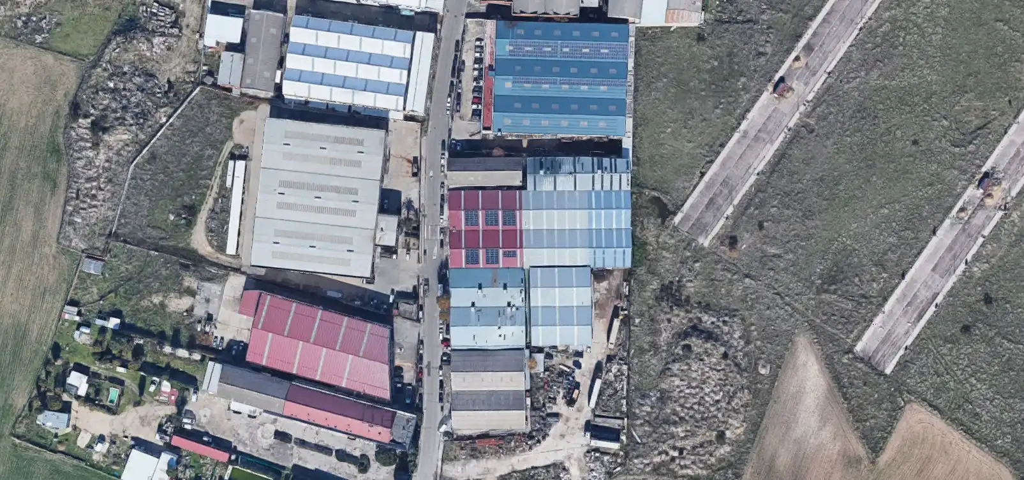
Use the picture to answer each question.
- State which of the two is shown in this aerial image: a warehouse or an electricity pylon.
warehouse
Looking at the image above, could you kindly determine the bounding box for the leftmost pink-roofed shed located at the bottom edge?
[171,434,233,463]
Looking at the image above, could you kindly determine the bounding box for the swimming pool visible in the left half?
[107,388,119,406]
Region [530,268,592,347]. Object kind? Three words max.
building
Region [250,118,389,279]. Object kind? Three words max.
warehouse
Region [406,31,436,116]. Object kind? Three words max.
shed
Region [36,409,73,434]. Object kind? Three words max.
house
